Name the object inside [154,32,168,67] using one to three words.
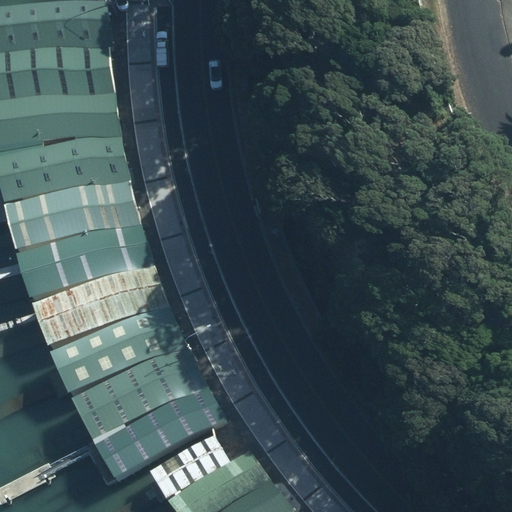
vehicle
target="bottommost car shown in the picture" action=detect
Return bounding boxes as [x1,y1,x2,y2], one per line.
[208,60,222,90]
